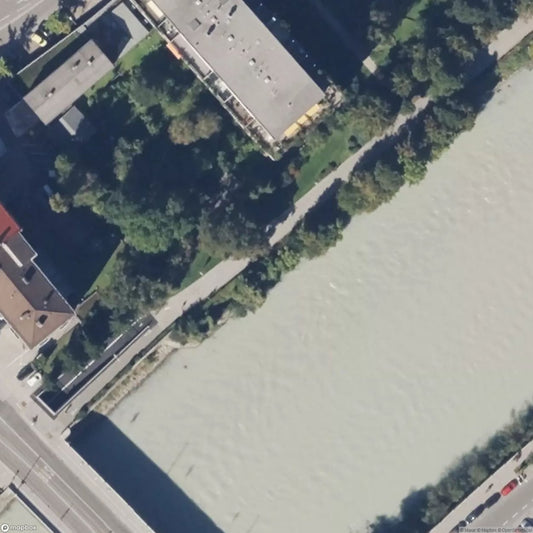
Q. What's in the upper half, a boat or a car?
car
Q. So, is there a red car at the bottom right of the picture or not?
Yes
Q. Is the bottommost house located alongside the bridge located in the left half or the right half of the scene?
left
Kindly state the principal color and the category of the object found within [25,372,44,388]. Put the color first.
white car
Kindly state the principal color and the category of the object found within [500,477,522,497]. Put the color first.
red car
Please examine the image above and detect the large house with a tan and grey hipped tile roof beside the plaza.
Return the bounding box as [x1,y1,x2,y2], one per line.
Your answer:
[0,232,75,350]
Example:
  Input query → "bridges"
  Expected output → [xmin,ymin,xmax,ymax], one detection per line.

[0,397,156,533]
